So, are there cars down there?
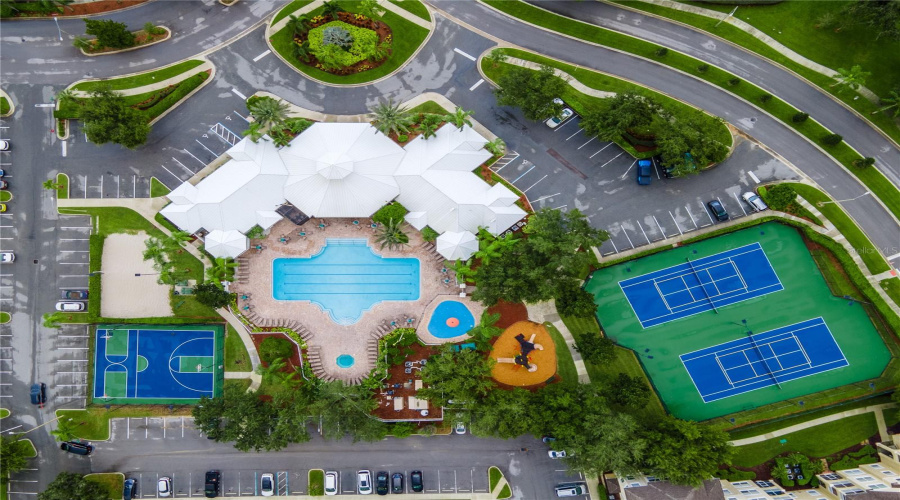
Yes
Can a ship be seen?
No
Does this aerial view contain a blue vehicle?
Yes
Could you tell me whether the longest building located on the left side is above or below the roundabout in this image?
below it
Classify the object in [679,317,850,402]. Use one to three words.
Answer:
tennis court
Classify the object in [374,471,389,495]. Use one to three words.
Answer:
car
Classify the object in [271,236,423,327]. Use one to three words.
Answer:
swimming pool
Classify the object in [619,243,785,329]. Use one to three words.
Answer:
tennis court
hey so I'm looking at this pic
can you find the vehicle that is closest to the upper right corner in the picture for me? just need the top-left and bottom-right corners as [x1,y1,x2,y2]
[743,189,764,214]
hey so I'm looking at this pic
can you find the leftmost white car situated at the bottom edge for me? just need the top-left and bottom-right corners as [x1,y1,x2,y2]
[157,475,172,496]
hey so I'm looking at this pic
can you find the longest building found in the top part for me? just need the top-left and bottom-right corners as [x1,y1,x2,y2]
[159,122,527,237]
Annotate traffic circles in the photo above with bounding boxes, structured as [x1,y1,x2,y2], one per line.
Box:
[262,0,438,87]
